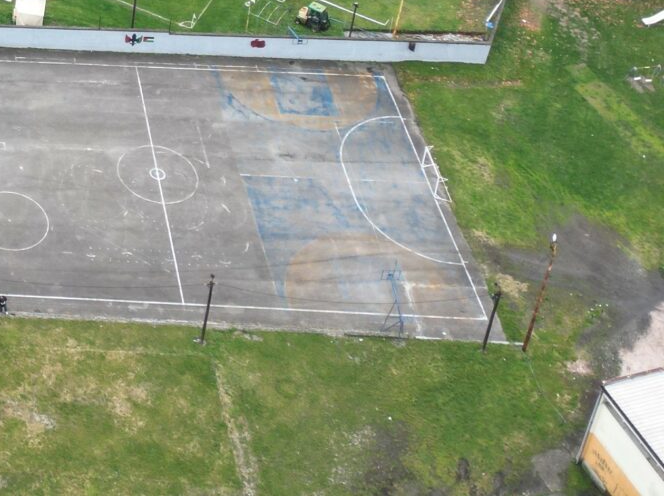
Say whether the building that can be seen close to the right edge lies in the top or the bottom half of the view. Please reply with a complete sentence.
The building that can be seen close to the right edge sits in the bottom half of the picture.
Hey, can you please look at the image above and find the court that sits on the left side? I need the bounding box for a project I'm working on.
[0,46,528,349]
